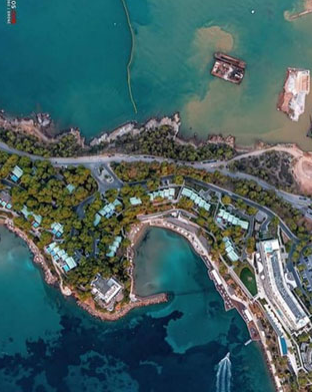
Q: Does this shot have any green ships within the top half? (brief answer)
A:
No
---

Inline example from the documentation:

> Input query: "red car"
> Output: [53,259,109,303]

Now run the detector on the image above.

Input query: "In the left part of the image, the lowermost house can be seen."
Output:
[90,273,124,311]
